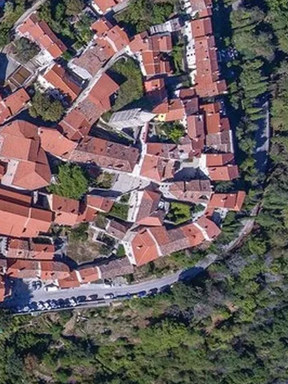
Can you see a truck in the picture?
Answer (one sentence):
No, this view has no truck in it.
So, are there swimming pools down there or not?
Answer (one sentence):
No, no swimming pool can be seen from above.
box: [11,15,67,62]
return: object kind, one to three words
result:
house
